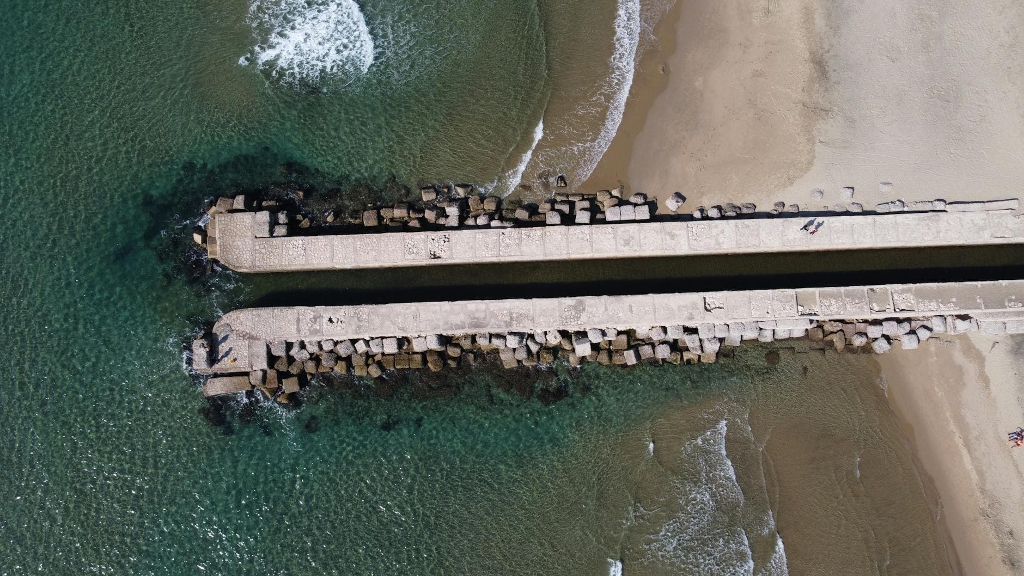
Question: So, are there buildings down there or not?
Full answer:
No, there is no building in the image.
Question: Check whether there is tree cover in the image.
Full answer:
No, no tree cover is visible.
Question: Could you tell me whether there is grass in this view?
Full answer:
No, there is no grass in the image.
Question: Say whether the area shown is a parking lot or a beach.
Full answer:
This looks like a beach.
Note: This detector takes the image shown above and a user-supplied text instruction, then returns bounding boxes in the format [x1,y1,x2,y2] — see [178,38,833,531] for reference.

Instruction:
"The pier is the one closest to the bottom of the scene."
[212,279,1024,371]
